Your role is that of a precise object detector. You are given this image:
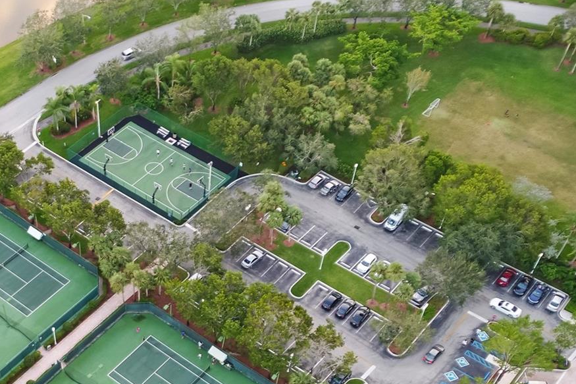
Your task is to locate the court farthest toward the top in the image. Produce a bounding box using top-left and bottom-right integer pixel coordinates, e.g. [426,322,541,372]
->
[71,117,244,225]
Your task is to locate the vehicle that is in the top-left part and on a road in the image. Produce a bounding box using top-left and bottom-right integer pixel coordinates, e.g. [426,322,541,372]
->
[118,47,136,60]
